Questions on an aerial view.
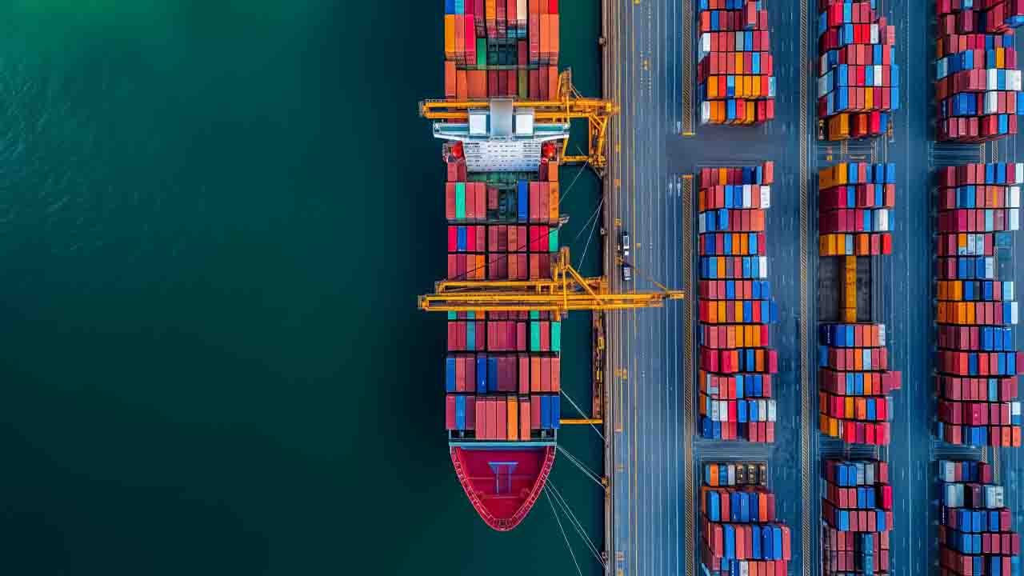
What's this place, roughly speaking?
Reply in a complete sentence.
This image shows a port.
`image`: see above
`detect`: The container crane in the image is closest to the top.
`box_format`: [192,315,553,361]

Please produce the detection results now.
[419,67,618,177]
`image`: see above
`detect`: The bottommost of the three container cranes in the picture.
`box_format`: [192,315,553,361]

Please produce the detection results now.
[417,262,685,323]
